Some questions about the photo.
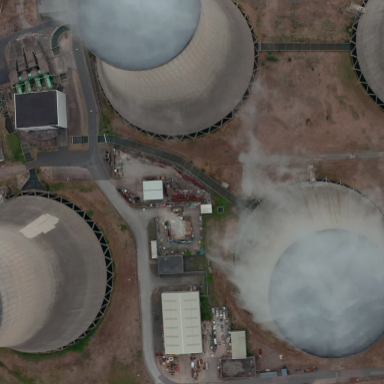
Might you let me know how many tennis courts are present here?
0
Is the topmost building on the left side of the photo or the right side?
left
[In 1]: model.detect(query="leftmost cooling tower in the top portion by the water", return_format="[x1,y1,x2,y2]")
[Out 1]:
[78,0,259,140]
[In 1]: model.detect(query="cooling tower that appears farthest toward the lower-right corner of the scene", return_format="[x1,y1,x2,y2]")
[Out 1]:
[236,163,384,357]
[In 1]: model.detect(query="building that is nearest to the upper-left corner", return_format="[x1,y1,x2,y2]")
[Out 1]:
[16,90,67,130]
